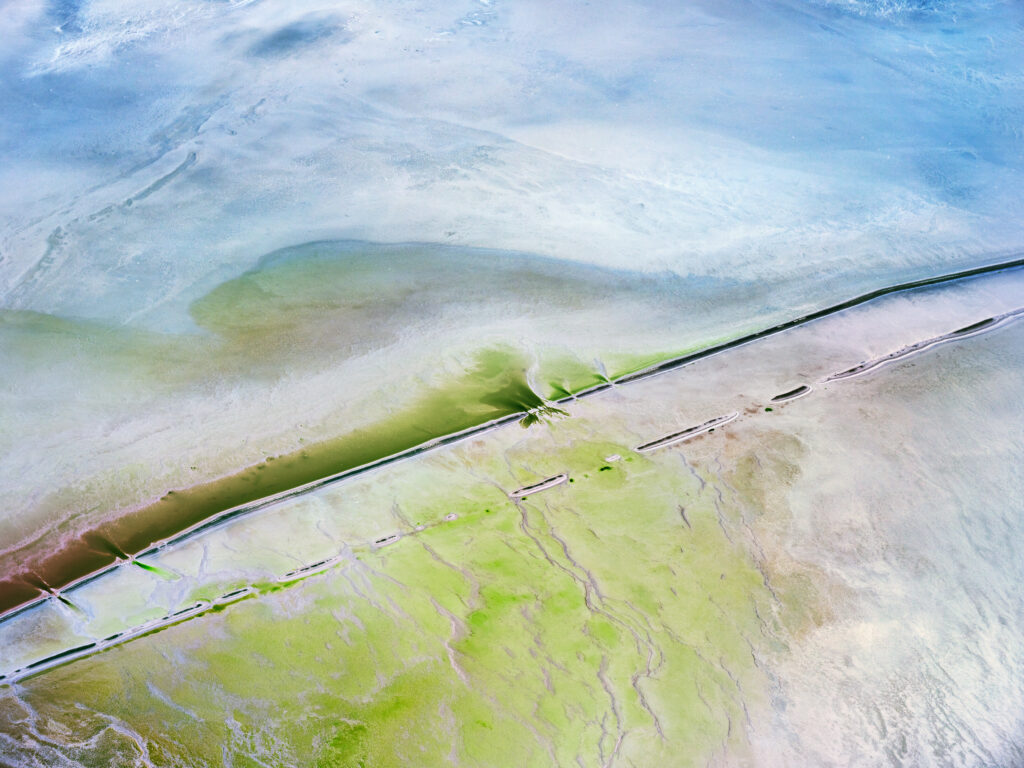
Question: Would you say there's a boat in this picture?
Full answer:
No, I can't see a single boat in this photo.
